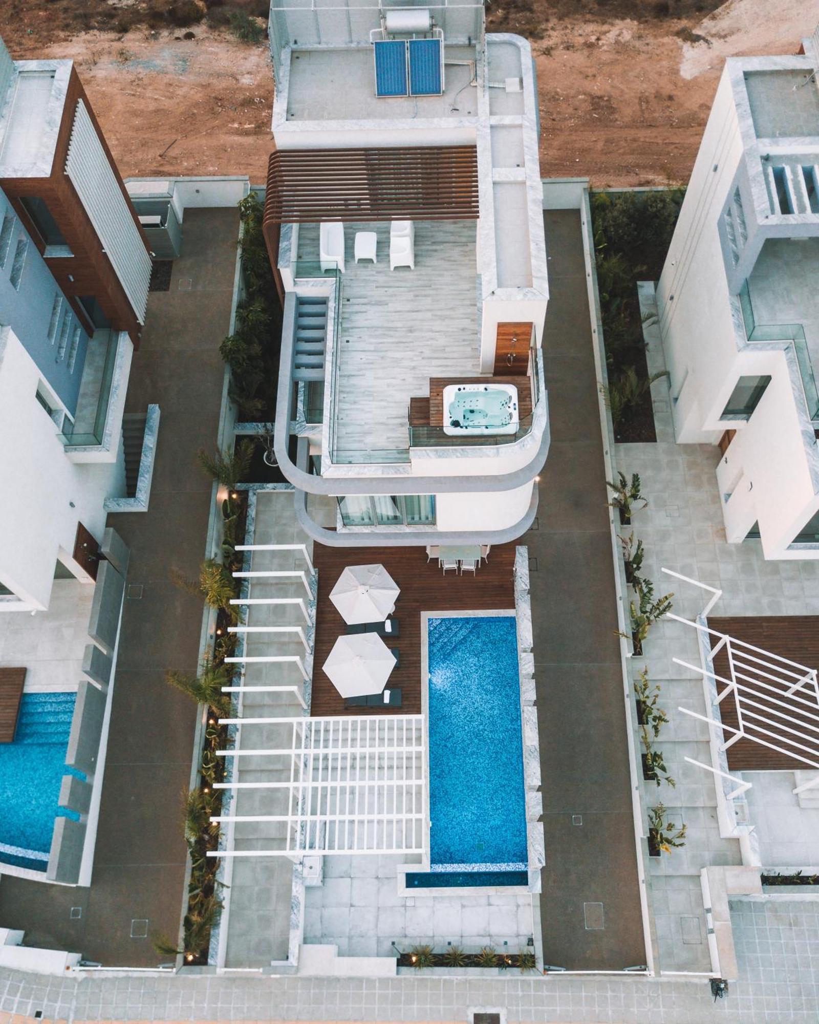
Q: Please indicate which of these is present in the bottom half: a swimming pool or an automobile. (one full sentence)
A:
There is a swimming pool in the bottom half.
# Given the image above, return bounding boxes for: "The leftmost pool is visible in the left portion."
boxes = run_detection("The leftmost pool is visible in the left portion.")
[0,682,101,885]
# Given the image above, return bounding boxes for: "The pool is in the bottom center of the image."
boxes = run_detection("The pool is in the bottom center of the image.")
[397,610,528,896]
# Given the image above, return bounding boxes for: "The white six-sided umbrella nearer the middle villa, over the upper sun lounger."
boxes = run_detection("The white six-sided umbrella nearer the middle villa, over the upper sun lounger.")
[328,563,401,628]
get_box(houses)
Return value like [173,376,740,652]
[659,0,819,560]
[0,0,152,623]
[266,32,558,548]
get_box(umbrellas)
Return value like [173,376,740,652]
[322,631,397,699]
[328,563,401,628]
